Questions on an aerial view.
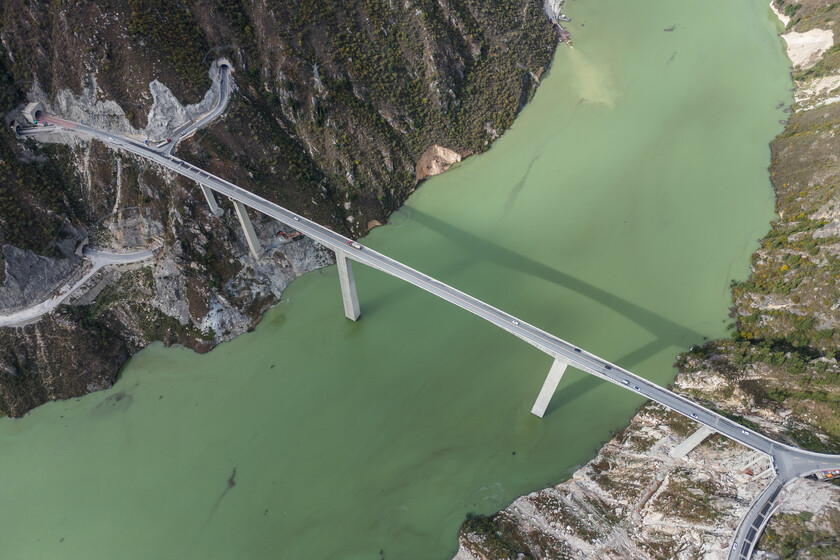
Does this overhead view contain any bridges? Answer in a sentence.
Yes, the picture does show a bridge.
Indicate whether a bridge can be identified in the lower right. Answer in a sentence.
Yes, you'll find a bridge in the lower right.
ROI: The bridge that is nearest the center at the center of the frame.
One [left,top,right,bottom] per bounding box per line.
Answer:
[150,151,766,461]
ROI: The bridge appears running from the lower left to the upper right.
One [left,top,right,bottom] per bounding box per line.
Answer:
[727,473,793,560]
